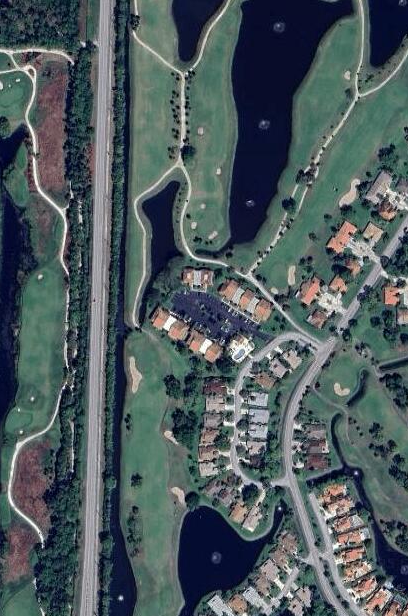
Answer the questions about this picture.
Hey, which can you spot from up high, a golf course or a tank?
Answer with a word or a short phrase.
golf course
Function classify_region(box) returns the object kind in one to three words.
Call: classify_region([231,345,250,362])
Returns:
swimming pool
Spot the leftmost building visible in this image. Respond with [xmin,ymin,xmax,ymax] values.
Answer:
[151,307,189,337]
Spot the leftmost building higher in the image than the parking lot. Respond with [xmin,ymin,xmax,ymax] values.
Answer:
[183,268,214,286]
